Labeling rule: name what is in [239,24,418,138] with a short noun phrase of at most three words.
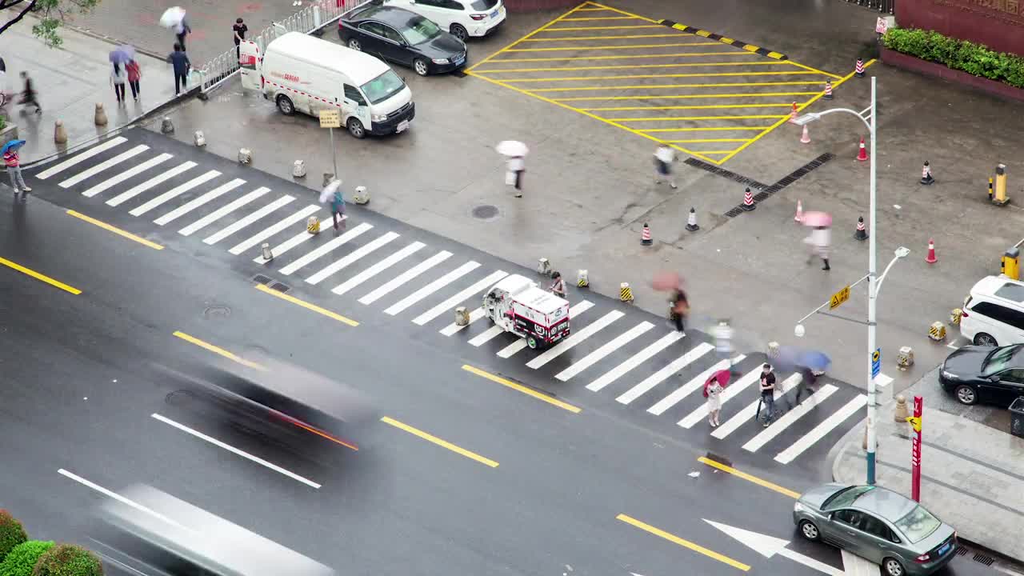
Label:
van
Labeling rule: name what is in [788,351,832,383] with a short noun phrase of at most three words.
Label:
umbrella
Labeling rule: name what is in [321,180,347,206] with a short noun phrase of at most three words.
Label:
umbrella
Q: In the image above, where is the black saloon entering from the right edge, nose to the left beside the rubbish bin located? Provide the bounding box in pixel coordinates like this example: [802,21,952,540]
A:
[942,341,1024,413]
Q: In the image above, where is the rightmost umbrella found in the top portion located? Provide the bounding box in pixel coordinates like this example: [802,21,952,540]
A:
[795,211,836,240]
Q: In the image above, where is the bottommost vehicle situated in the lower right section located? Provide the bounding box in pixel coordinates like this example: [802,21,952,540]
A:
[786,477,968,576]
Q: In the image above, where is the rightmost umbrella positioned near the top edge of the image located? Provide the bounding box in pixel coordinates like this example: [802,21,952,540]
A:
[161,6,189,31]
